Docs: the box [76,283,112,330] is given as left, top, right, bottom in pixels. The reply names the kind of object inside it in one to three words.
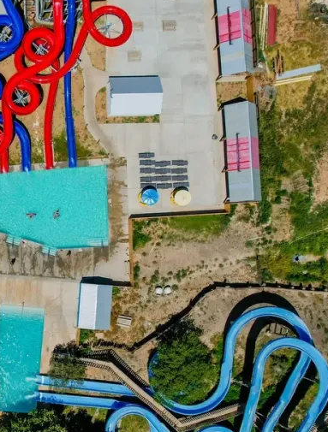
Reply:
shed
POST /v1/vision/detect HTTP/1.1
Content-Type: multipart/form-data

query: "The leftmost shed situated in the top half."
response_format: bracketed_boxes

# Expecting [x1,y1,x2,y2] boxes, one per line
[106,76,162,118]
